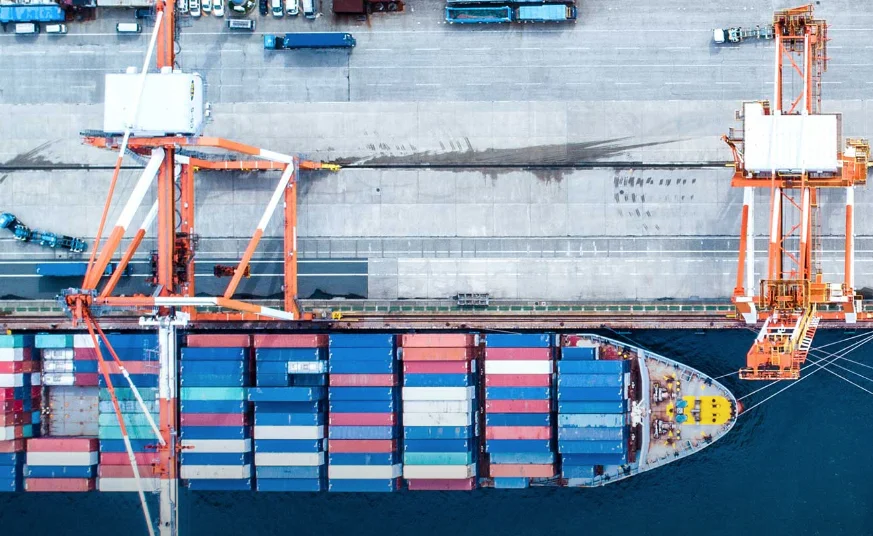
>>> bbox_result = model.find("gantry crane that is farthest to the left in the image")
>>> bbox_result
[61,0,341,536]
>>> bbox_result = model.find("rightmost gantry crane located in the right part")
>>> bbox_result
[719,0,873,380]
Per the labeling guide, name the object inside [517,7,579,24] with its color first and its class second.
blue trailer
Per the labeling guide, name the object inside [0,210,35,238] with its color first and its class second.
blue truck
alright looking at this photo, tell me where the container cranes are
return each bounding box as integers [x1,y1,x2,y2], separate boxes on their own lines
[719,0,873,380]
[61,0,341,536]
